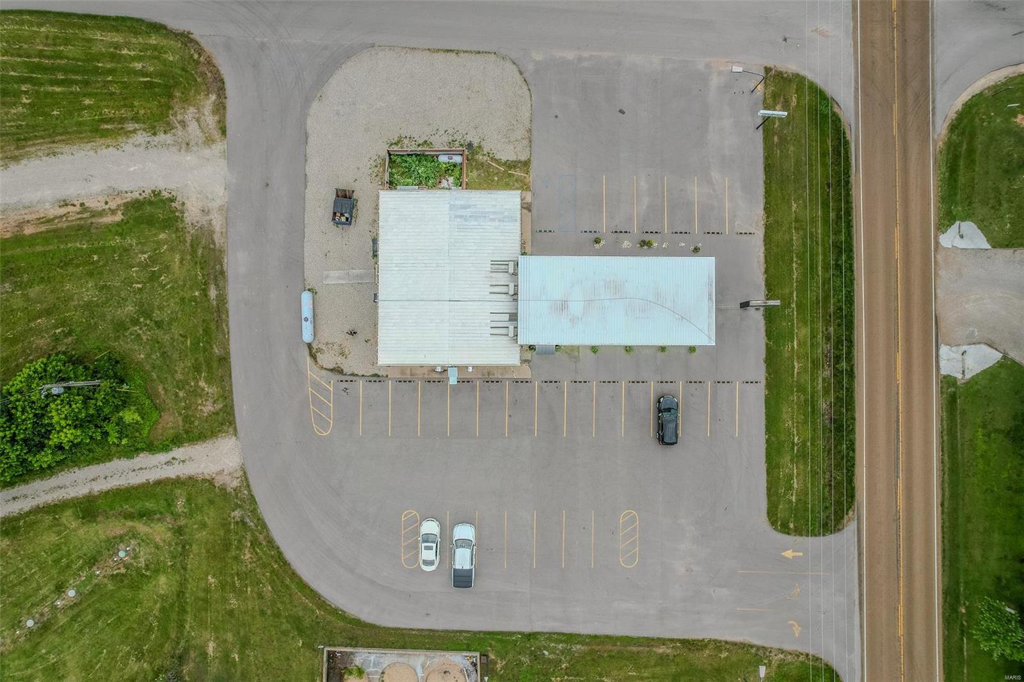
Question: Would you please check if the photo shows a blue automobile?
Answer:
No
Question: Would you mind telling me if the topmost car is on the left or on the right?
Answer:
right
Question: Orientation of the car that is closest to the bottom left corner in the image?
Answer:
up and down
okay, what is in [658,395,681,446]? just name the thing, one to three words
car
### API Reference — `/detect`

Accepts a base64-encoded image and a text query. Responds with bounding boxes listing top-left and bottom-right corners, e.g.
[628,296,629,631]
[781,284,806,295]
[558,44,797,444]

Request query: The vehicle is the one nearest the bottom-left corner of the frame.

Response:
[418,520,440,572]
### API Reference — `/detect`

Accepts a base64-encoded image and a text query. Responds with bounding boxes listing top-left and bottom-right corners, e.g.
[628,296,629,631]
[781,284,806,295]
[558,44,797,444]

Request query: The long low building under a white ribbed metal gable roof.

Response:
[376,187,522,366]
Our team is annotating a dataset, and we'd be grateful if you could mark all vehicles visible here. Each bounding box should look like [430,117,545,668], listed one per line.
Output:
[450,525,476,591]
[658,395,681,446]
[418,520,440,572]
